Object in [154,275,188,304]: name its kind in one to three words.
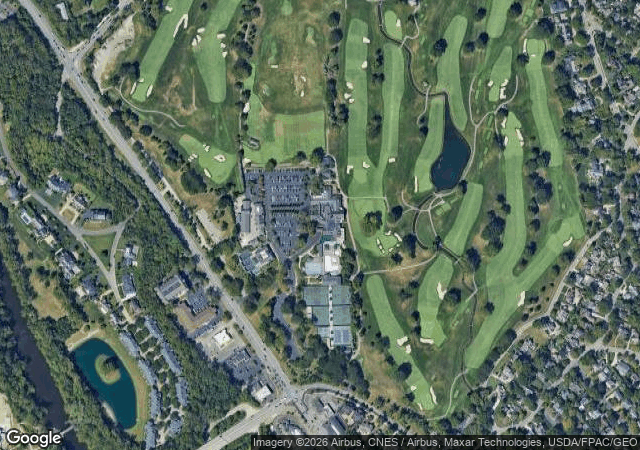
building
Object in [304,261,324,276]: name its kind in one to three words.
swimming pool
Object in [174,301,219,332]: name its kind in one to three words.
building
